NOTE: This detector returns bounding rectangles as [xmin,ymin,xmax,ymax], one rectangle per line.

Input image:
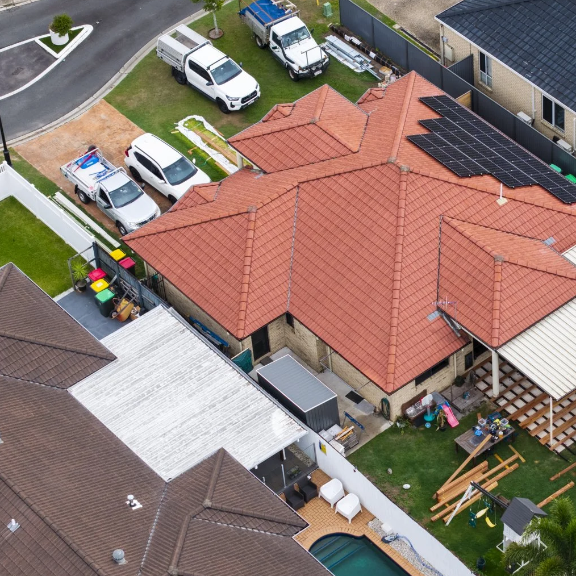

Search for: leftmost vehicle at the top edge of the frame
[157,25,266,115]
